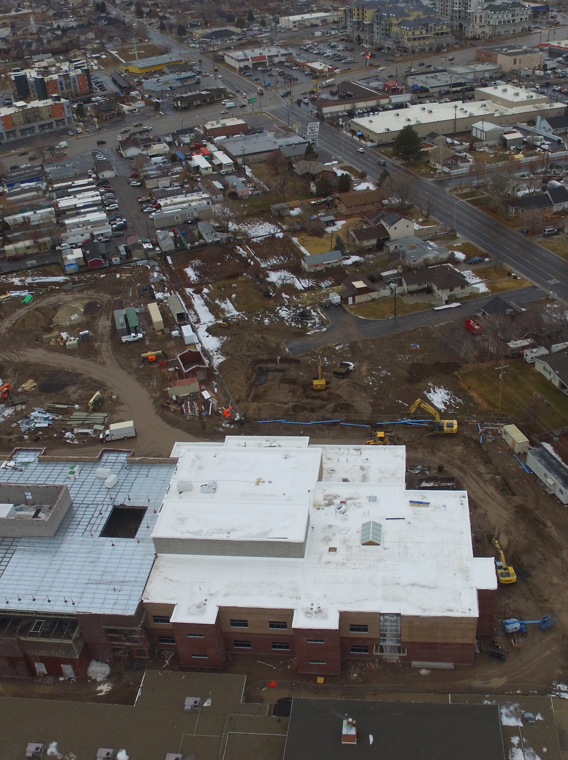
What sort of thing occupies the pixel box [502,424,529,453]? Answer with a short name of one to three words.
shipping container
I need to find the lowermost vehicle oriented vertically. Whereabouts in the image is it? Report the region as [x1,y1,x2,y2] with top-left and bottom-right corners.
[495,543,521,595]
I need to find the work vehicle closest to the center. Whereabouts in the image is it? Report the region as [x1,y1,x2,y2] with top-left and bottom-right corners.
[313,354,327,391]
